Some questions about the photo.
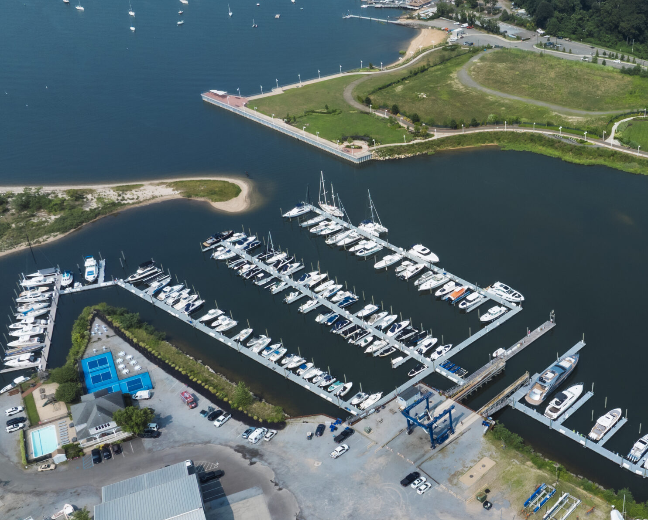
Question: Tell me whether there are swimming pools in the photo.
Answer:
Yes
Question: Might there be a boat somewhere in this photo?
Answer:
Yes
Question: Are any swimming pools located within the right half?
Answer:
No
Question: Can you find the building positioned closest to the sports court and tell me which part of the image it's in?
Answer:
bottom left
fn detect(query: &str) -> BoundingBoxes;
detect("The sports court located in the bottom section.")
[82,352,153,394]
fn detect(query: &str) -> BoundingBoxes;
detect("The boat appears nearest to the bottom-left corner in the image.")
[1,375,32,392]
